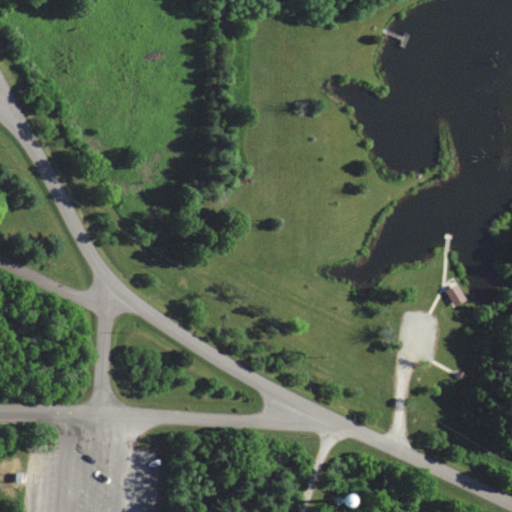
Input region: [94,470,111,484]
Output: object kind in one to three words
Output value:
vehicle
